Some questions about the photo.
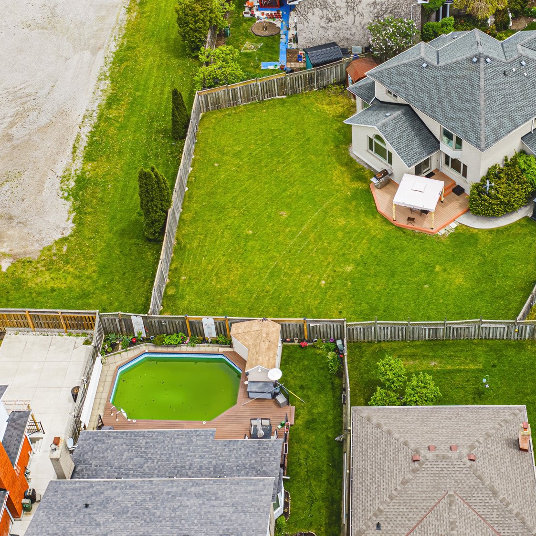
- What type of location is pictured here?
residential area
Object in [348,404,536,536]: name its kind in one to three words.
house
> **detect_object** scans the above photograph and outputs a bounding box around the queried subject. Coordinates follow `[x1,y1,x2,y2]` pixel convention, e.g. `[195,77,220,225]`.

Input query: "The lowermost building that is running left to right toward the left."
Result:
[24,429,290,536]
